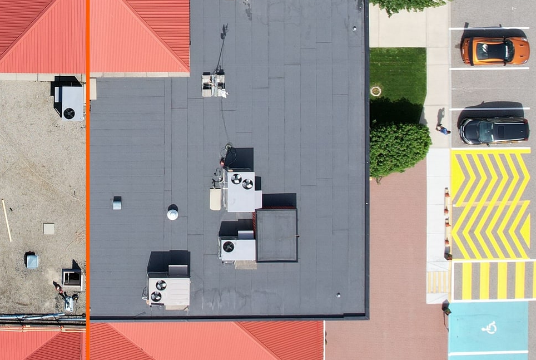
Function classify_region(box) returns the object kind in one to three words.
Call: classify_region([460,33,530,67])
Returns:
car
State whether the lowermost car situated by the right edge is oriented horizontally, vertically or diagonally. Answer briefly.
horizontally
